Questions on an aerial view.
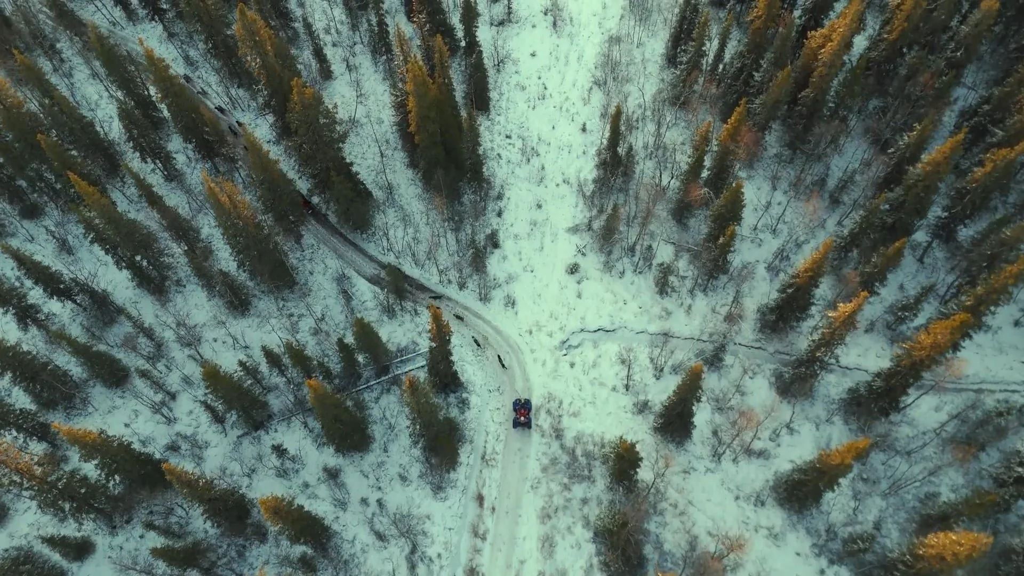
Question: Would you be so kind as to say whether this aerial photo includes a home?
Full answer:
No, there appears to be no home in this shot.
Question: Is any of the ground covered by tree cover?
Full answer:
Yes, the picture does contain tree cover.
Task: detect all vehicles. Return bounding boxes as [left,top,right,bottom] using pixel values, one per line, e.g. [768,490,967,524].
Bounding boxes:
[299,191,320,218]
[513,397,532,430]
